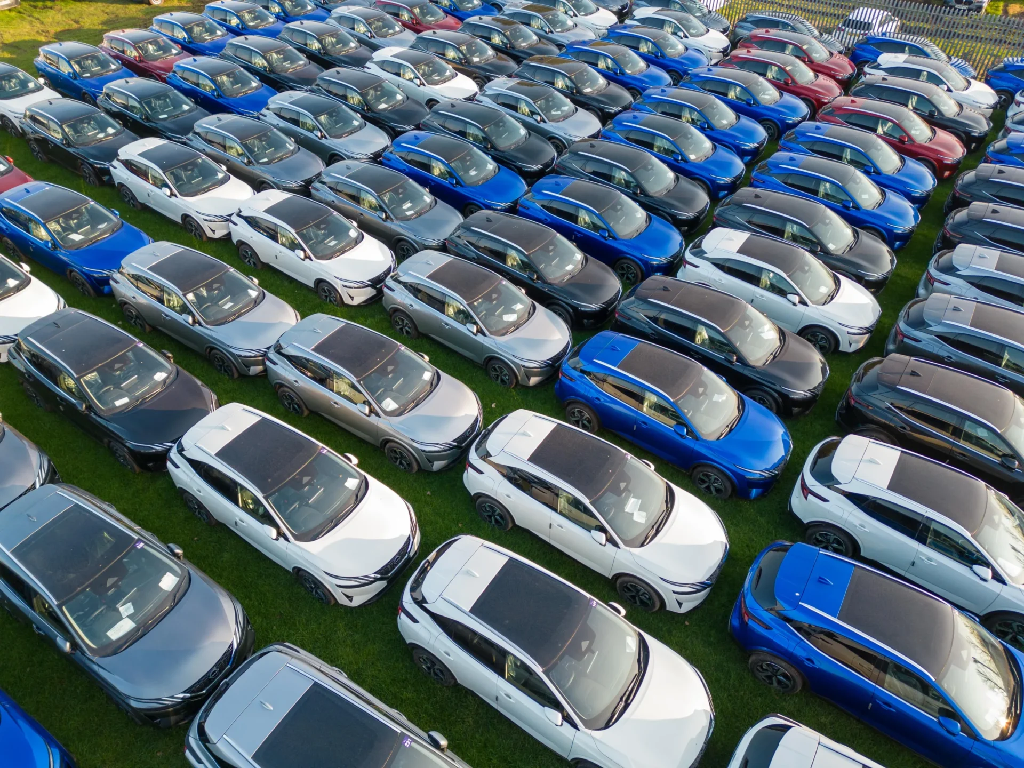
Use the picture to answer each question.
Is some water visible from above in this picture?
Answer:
No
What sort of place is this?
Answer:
parking lot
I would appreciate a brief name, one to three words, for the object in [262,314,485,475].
car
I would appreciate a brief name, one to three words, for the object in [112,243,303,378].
car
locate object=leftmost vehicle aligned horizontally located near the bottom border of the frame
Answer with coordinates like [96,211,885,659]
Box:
[181,647,469,768]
